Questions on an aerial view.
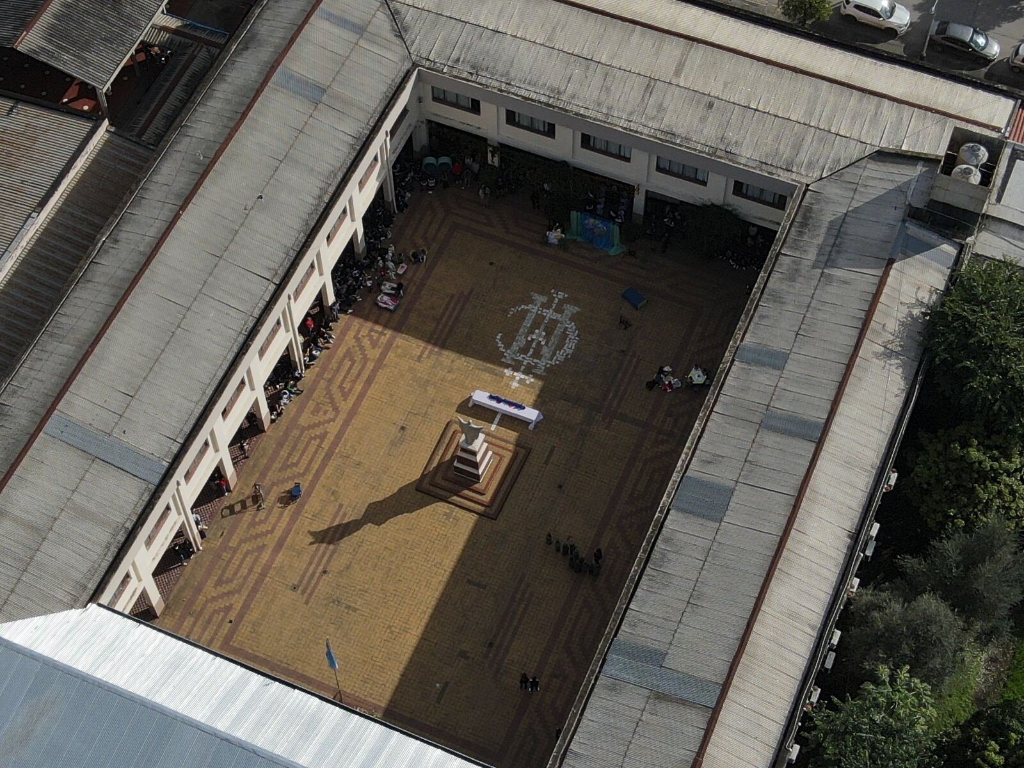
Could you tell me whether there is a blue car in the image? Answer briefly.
No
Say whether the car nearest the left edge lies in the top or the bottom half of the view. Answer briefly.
top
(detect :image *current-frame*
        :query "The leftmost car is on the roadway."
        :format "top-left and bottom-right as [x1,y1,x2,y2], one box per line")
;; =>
[843,0,918,37]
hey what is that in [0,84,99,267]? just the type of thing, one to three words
building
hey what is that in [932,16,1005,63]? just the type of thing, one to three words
car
